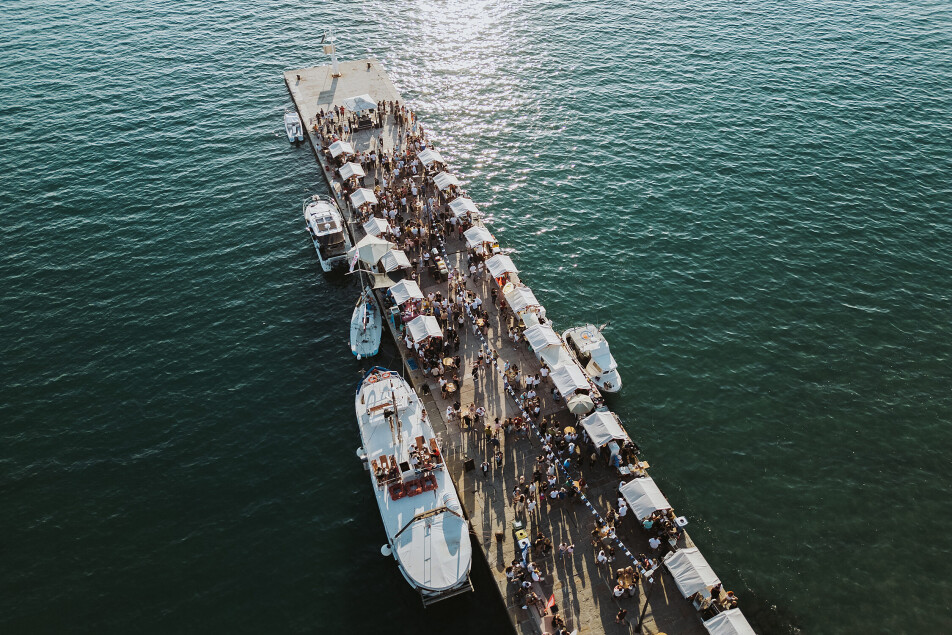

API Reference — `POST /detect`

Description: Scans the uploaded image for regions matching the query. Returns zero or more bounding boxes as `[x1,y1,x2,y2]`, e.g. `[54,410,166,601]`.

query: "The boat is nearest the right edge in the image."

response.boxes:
[563,311,621,399]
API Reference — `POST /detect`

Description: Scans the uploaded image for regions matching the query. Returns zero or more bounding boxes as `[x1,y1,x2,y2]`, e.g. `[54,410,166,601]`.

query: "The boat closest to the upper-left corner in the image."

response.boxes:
[279,107,306,149]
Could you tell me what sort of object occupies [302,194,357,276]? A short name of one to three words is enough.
boat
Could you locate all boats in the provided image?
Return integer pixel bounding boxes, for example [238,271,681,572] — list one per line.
[351,360,475,613]
[563,311,621,399]
[302,194,357,276]
[342,196,381,364]
[279,107,306,149]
